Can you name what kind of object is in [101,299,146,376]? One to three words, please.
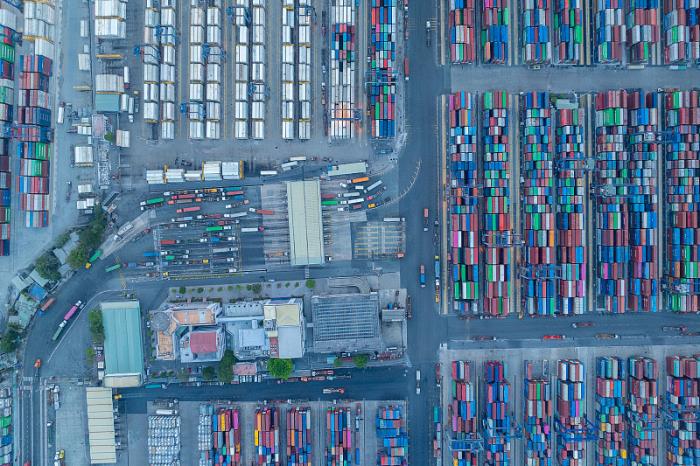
building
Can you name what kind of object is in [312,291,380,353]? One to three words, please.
building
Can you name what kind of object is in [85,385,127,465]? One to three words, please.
shed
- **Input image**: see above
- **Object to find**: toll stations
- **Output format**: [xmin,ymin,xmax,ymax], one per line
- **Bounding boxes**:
[282,180,332,266]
